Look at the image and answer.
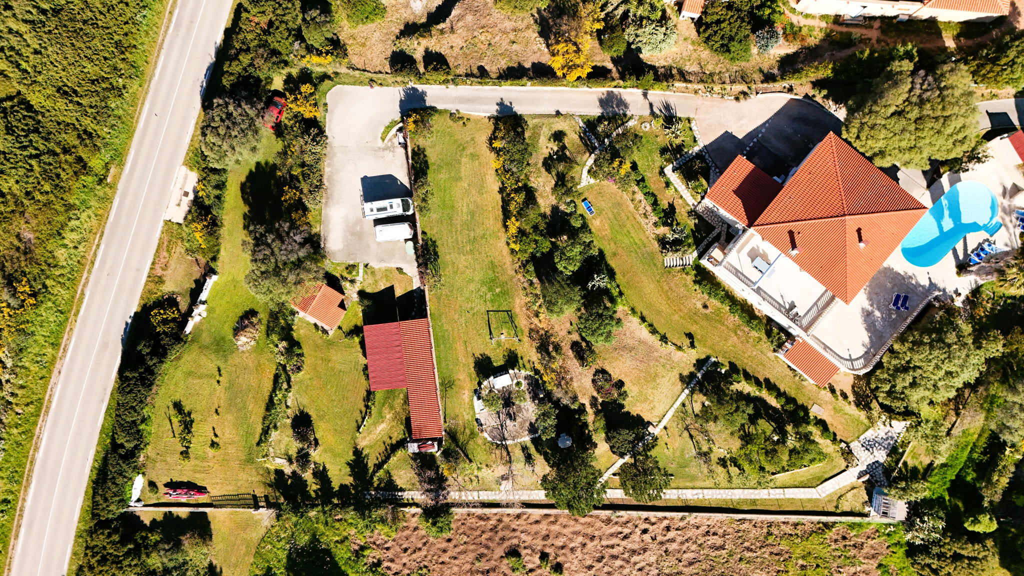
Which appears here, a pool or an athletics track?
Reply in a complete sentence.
There is a pool in the scene.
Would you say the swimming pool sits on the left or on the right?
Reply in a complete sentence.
The swimming pool is on the right side of the image.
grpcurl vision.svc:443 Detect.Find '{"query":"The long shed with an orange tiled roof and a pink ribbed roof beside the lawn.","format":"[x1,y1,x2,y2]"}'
[363,319,444,439]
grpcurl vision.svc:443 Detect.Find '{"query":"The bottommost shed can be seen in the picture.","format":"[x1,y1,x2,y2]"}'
[868,491,909,520]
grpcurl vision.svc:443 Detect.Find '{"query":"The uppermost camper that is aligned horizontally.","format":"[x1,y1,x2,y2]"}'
[357,195,416,222]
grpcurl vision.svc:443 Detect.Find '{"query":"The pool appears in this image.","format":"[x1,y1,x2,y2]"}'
[899,179,1004,269]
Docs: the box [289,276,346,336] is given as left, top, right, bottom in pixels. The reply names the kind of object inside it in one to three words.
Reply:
house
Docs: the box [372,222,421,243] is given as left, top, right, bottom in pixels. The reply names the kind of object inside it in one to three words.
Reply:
camper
